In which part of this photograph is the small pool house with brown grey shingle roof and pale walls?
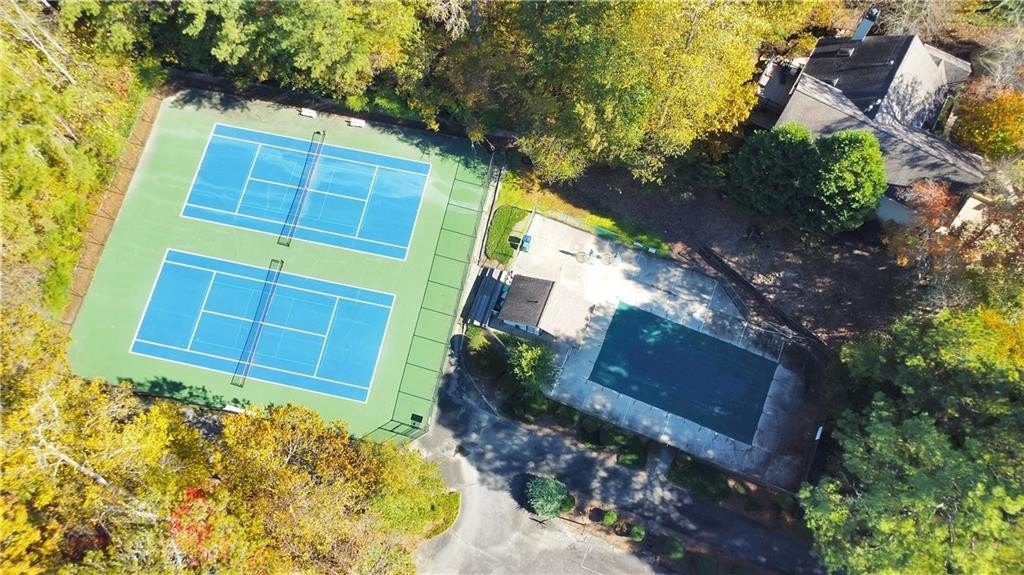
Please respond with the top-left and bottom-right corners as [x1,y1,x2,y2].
[499,277,591,349]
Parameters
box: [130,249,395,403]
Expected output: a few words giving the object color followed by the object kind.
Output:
blue tennis court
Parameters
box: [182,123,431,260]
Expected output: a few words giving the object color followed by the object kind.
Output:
blue tennis court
